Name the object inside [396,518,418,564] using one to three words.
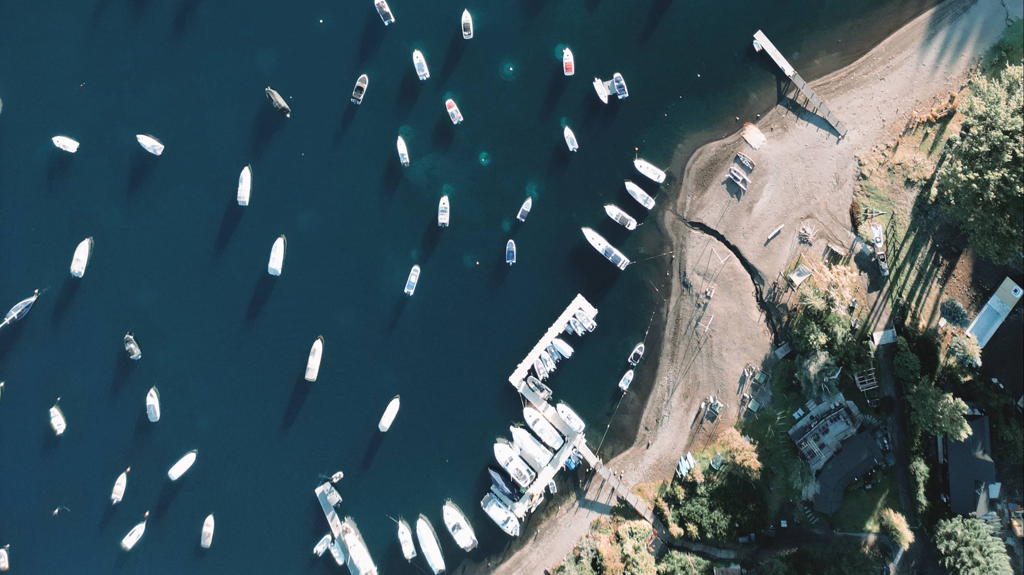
boat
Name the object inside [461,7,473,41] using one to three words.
boat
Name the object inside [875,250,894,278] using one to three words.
vehicle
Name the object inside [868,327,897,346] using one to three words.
shed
